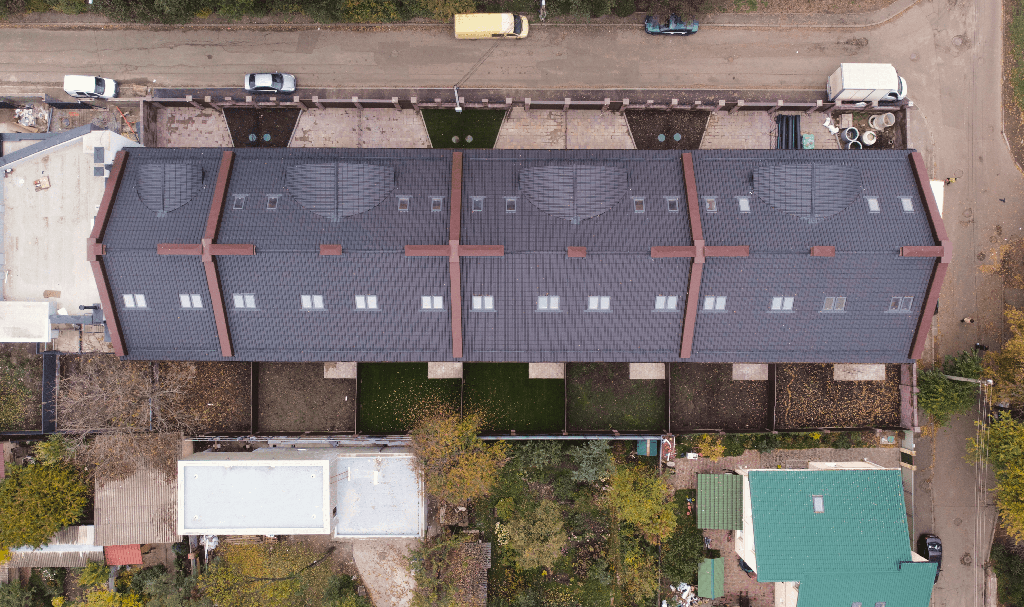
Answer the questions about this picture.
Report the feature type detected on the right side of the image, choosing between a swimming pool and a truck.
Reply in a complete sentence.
There is a truck on the right side of the image.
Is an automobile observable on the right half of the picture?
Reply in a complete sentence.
Yes, an automobile shows up on the right half of the picture.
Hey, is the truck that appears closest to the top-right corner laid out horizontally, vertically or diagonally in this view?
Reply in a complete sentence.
What the image shows is the truck that appears closest to the top-right corner lying horizontally.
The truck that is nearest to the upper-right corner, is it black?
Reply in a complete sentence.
No, the truck that is nearest to the upper-right corner is actually white.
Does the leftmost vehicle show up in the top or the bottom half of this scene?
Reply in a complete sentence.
The leftmost vehicle is in the top half of the image.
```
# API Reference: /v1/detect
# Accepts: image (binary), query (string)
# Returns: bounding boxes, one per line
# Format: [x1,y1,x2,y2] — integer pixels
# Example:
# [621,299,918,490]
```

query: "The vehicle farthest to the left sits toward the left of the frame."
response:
[58,75,122,100]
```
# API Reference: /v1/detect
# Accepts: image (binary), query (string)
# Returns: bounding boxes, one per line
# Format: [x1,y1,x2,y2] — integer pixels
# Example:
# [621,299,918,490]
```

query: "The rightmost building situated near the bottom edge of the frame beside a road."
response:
[736,458,937,607]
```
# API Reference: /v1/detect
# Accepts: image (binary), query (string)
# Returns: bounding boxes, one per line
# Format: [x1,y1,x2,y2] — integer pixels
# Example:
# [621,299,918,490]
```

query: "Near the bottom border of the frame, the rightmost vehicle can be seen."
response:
[917,532,944,584]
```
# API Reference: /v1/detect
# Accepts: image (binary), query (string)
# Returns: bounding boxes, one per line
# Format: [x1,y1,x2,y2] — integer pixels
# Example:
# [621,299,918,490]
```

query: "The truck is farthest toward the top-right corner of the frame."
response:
[823,63,909,99]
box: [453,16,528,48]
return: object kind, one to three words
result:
van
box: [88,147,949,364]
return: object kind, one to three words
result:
house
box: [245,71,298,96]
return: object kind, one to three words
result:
car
